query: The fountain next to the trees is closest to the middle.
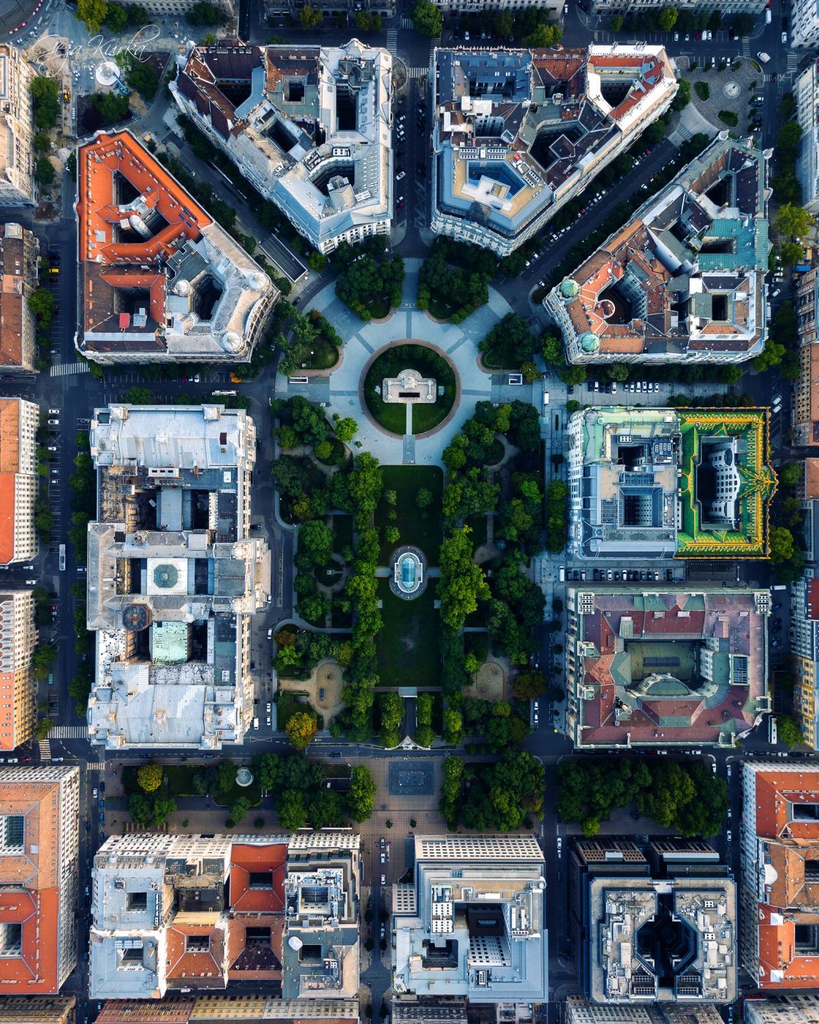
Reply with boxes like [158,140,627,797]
[390,546,428,600]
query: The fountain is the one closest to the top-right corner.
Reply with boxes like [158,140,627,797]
[723,81,741,98]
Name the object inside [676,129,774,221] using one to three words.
building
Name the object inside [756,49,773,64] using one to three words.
vehicle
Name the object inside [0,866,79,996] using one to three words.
building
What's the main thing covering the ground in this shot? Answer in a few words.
buildings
